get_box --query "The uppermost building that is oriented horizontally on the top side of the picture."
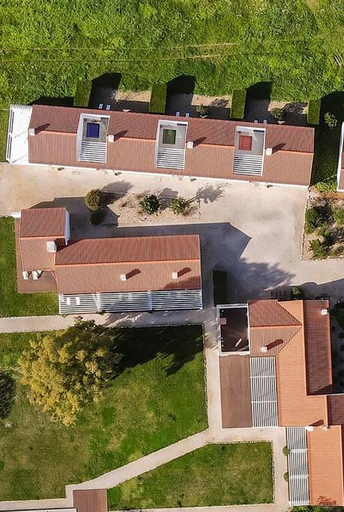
[28,105,315,189]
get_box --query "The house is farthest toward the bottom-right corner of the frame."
[248,299,344,506]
